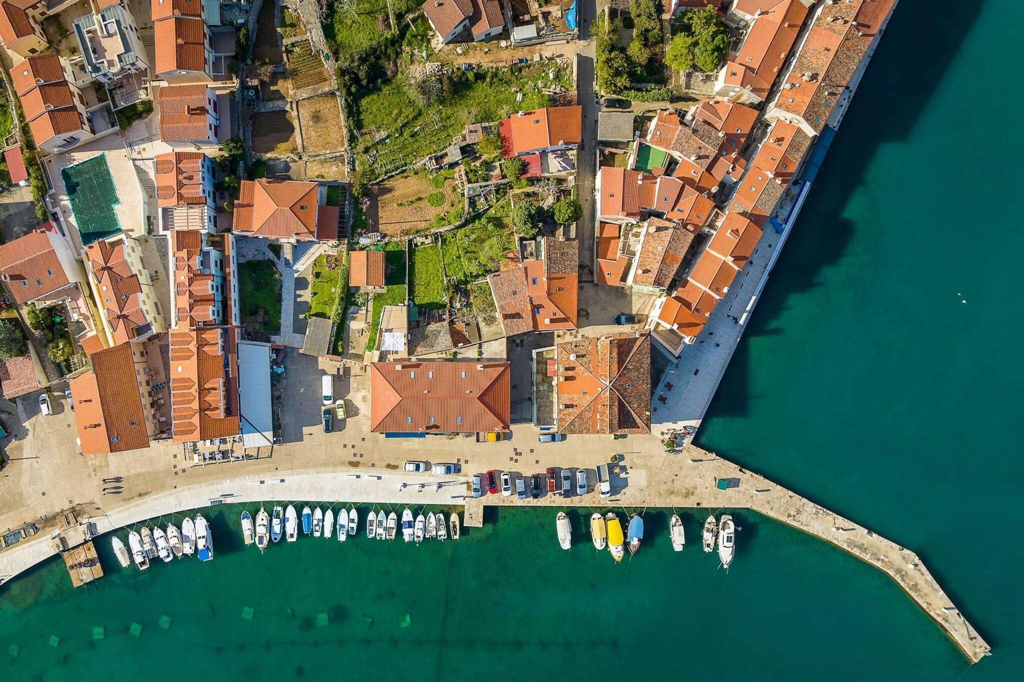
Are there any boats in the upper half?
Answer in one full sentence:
No, no boat can be made out in the upper half.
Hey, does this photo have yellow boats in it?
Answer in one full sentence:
Yes, I can see a yellow boat in this picture.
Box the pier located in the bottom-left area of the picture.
[64,540,106,588]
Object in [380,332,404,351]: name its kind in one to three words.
tent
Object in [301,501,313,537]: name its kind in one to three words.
boat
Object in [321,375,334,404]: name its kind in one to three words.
vehicle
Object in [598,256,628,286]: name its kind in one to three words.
house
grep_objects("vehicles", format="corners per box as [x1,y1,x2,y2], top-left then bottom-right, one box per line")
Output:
[321,407,334,433]
[598,464,611,498]
[576,469,587,495]
[545,467,556,492]
[430,464,456,475]
[614,313,636,325]
[335,398,347,421]
[12,176,34,186]
[403,461,426,473]
[538,432,562,443]
[471,473,482,497]
[38,392,54,417]
[477,432,505,443]
[485,471,498,495]
[561,467,571,495]
[64,388,74,412]
[530,474,542,499]
[321,375,334,404]
[515,476,527,499]
[501,472,513,497]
